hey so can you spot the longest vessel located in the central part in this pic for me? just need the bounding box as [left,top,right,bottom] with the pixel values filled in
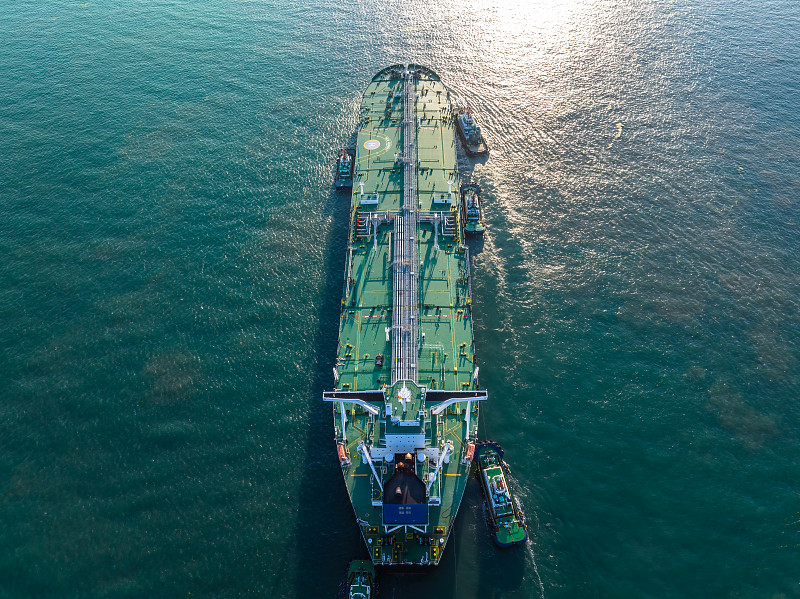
[322,59,491,564]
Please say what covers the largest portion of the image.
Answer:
water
